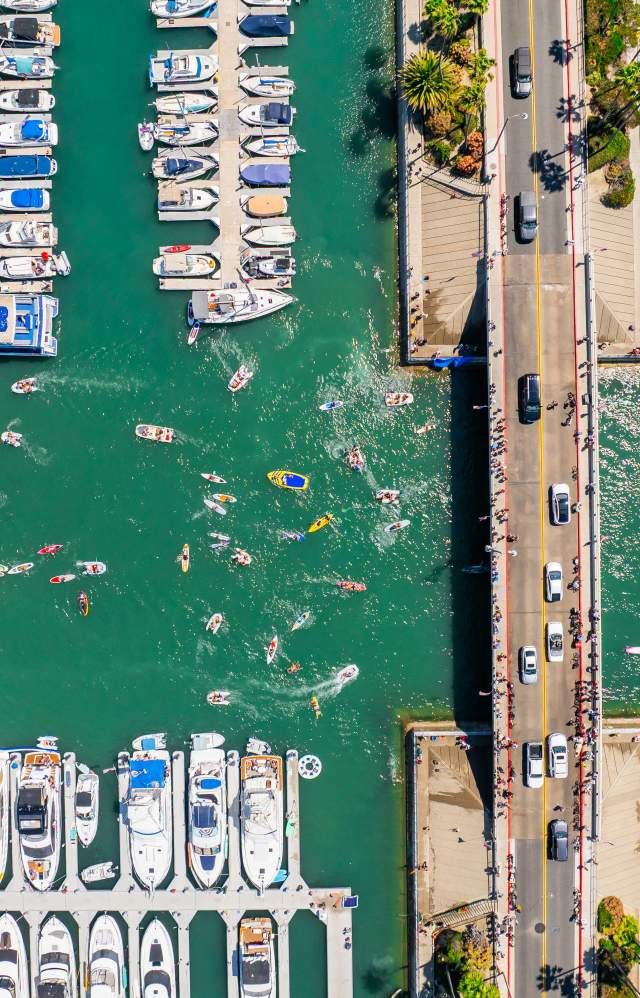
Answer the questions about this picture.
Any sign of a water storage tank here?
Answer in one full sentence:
No, there's no water storage tank here.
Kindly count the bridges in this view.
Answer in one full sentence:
Only 1 bridge is visible.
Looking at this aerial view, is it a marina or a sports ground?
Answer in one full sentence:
The picture captures a marina.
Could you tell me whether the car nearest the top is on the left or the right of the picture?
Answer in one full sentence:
You can find the car nearest the top on the right side of the picture.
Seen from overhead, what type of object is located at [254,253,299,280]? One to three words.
boat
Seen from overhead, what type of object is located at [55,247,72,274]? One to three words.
boat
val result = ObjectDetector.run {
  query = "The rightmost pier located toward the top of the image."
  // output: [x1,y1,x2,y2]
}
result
[157,0,292,293]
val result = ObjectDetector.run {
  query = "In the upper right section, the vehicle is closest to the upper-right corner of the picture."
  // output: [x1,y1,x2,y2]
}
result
[509,48,532,97]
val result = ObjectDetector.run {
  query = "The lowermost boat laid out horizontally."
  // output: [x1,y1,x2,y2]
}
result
[80,861,117,880]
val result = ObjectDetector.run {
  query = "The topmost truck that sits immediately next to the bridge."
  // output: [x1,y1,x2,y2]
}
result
[515,192,538,245]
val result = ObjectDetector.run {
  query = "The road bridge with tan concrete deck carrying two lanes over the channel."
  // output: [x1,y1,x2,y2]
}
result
[486,247,603,843]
